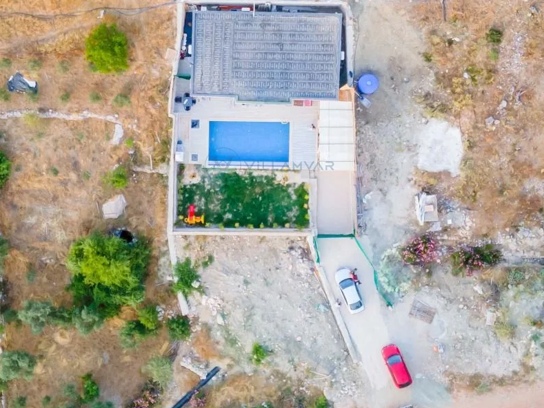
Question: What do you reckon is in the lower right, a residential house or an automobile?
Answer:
automobile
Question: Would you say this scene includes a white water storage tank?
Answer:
No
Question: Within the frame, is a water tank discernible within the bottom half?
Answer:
No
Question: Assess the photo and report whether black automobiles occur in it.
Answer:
No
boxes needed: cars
[384,345,413,392]
[334,267,366,318]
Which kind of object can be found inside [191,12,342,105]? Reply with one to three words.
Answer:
house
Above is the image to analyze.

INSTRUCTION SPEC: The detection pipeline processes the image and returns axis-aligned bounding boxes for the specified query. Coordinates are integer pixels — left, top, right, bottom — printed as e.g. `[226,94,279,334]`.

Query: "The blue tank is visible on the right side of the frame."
[353,71,380,95]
